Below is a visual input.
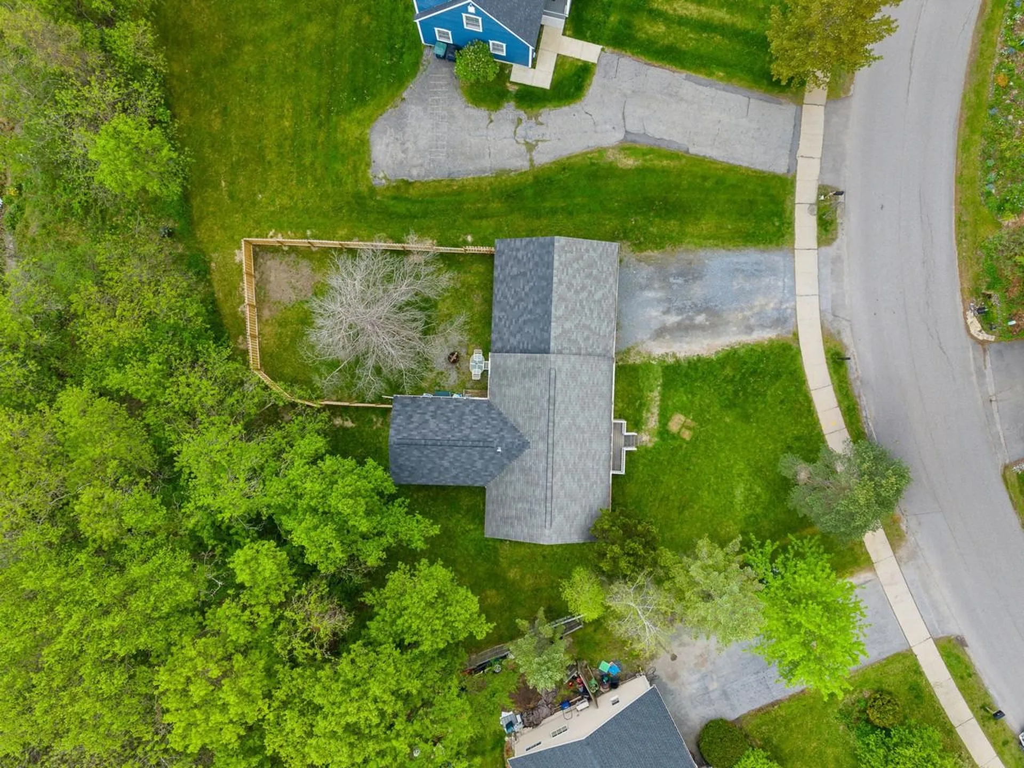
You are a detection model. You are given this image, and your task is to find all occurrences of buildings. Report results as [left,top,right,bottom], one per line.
[413,0,546,68]
[391,235,620,545]
[506,674,698,768]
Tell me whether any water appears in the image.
No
